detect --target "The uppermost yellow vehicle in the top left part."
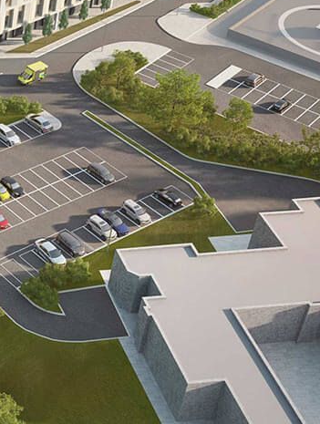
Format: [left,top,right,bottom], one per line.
[20,59,46,86]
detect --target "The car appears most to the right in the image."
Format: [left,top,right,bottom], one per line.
[269,101,290,115]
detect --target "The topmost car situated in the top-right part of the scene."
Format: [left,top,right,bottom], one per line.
[245,73,266,87]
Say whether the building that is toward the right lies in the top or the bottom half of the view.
bottom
